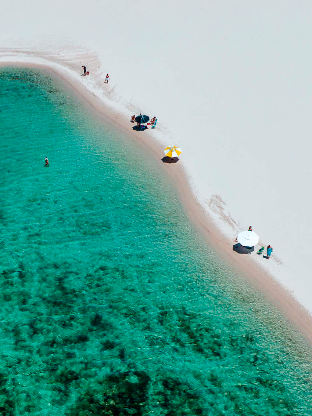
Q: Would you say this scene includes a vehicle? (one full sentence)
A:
No, the scene contains no vehicle.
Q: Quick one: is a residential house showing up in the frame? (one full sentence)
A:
No, I can't see a single residential house in this photo.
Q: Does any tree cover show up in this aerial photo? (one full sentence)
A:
No, the scene doesn't show any tree cover.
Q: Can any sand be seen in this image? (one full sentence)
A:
Yes, sand shows up in the scene.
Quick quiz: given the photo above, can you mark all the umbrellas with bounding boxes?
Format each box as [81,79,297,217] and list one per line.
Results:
[164,145,182,158]
[135,114,150,128]
[237,230,260,251]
